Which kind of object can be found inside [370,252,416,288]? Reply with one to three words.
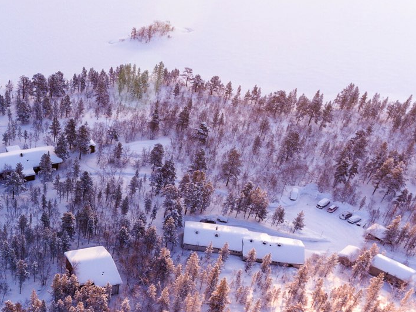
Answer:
shed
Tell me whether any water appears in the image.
Yes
